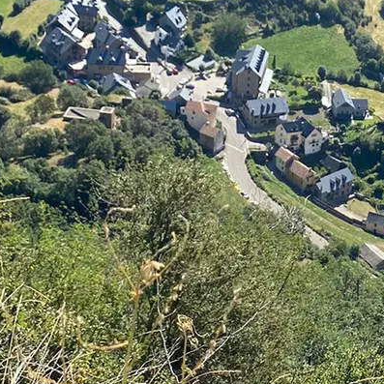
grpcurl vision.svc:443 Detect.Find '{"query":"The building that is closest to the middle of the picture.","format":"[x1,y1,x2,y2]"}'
[199,122,229,152]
